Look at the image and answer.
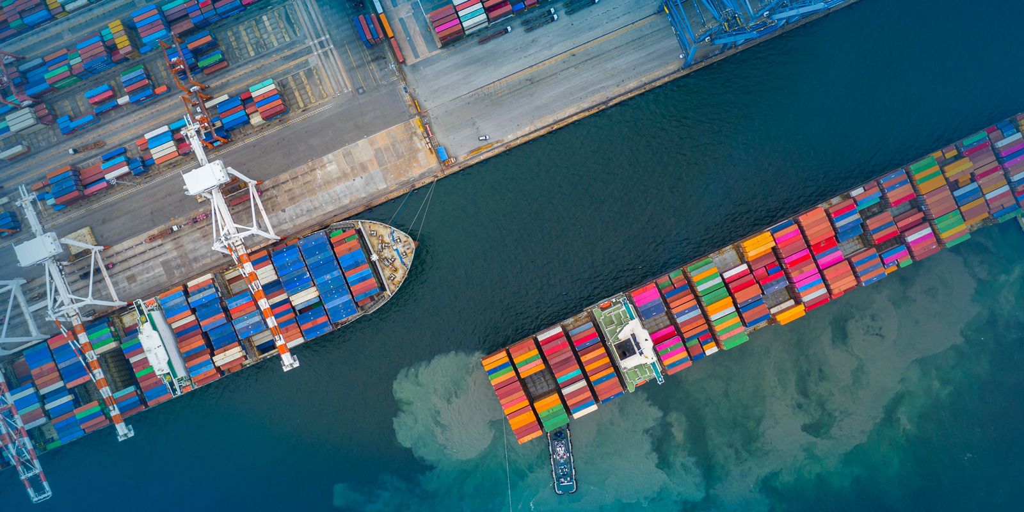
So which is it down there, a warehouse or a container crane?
container crane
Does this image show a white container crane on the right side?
No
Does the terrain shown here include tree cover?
No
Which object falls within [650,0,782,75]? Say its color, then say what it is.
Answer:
blue container crane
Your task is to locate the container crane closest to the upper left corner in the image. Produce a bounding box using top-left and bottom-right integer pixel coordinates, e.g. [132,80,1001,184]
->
[0,46,44,106]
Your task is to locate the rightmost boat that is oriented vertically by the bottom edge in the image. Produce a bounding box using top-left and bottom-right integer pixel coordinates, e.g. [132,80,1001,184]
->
[546,422,577,496]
